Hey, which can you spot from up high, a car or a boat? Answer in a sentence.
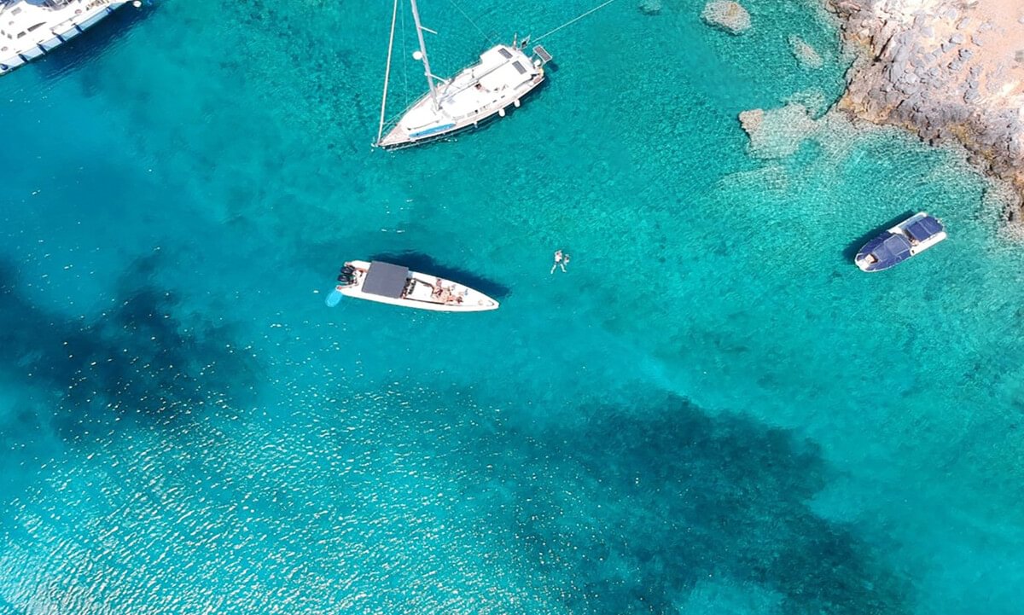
Visible in the photo is a boat.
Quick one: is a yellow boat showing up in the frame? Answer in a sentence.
No, the photo shows no yellow boat.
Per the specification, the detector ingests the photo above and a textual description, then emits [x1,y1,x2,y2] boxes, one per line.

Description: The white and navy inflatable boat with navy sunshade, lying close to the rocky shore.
[858,210,943,273]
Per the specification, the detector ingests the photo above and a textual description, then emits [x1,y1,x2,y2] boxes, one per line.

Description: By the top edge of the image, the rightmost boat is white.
[373,0,552,151]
